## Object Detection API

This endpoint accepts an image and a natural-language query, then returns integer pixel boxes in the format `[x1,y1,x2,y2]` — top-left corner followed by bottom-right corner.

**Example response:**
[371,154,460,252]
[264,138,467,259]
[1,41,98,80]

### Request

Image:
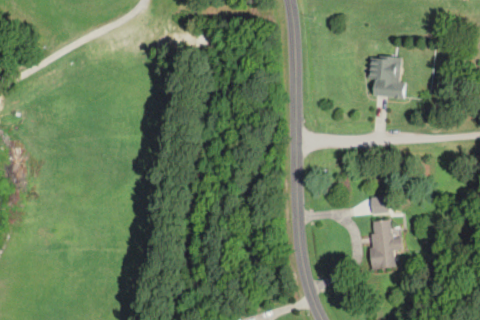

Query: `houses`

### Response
[369,56,409,100]
[369,218,404,270]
